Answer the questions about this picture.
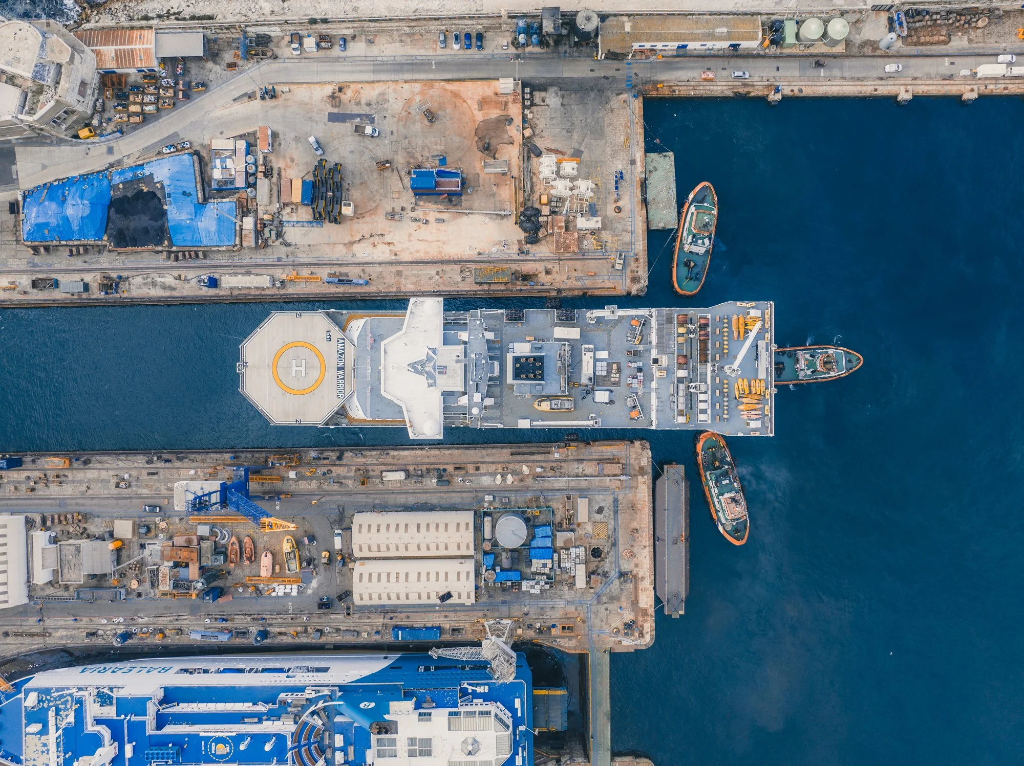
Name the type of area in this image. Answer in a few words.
port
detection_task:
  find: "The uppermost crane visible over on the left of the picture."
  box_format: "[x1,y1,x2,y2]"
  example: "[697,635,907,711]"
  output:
[174,465,325,533]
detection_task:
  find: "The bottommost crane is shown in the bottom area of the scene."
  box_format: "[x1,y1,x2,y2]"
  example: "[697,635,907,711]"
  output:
[427,617,527,684]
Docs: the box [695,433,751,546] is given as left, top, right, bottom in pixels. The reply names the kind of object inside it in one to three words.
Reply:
boat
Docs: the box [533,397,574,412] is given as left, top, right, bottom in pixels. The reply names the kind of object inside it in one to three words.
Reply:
boat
